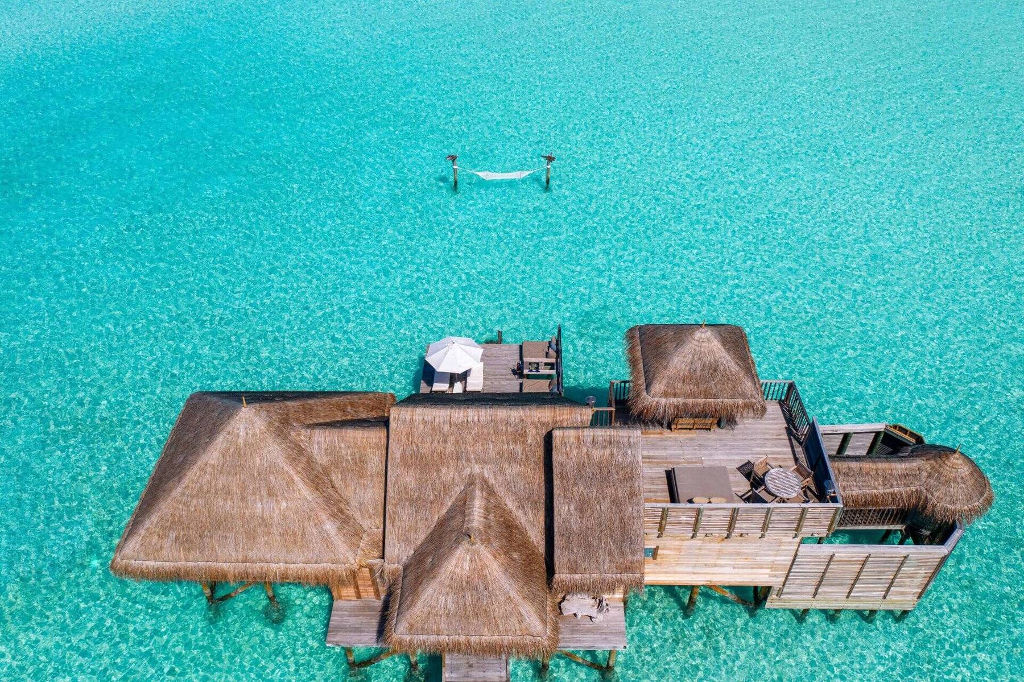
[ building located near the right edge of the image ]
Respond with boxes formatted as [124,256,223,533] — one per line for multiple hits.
[814,441,997,545]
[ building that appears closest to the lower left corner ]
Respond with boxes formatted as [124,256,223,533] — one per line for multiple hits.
[105,383,398,622]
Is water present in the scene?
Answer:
Yes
